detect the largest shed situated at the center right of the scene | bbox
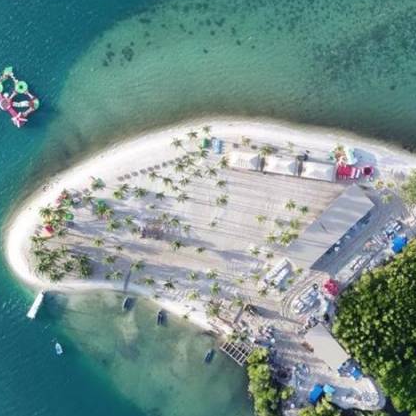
[288,184,378,275]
